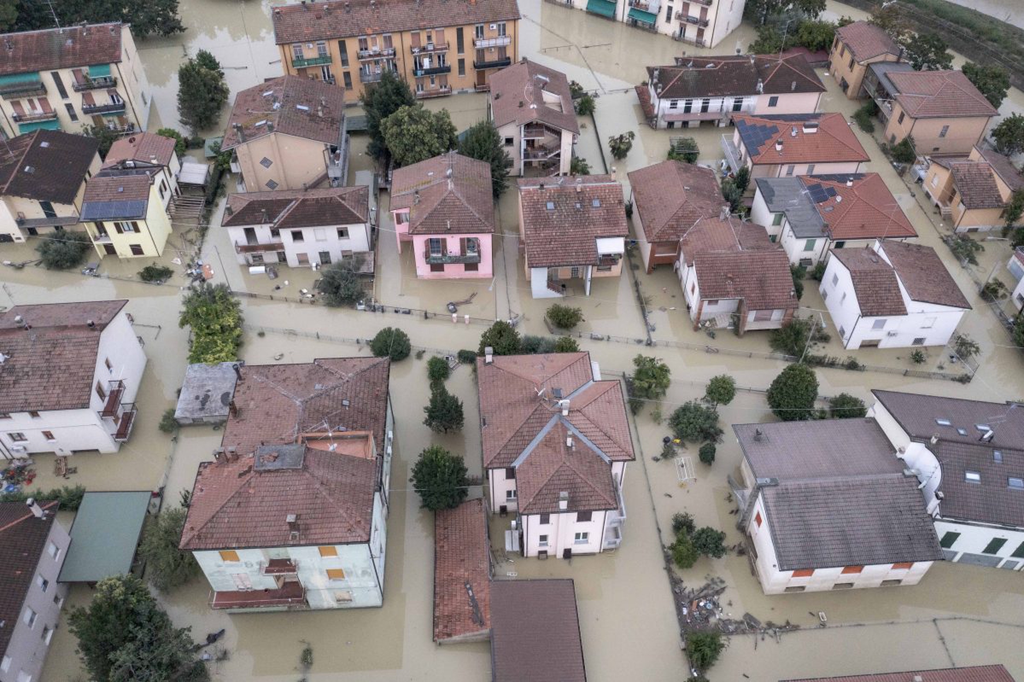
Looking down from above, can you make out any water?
Yes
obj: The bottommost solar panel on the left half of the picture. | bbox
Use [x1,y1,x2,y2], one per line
[81,200,145,218]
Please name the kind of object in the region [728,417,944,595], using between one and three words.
barn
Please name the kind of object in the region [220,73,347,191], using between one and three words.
house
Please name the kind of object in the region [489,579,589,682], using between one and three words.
shed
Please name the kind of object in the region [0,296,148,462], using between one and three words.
house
